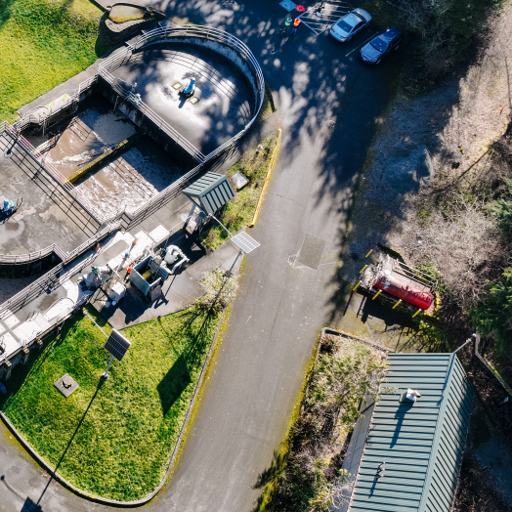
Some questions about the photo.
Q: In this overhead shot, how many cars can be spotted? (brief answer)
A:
2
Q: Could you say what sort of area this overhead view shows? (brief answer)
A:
industrial area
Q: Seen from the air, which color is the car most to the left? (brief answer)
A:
blue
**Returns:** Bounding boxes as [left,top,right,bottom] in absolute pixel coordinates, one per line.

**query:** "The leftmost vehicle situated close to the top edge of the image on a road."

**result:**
[329,7,377,45]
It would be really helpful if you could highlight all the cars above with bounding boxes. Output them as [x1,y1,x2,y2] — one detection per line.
[329,7,377,45]
[359,20,407,66]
